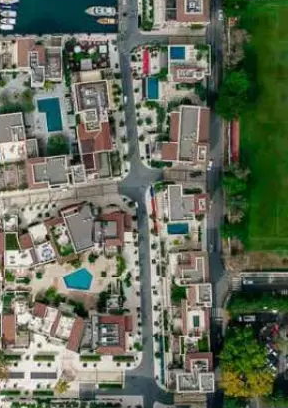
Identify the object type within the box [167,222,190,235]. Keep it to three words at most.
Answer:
swimming pool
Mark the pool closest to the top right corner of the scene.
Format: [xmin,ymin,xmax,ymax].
[170,47,187,60]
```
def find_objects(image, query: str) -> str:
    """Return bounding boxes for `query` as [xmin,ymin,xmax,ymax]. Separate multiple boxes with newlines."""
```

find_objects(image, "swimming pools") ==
[167,222,190,235]
[147,77,160,100]
[62,266,95,292]
[170,47,187,60]
[36,95,65,134]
